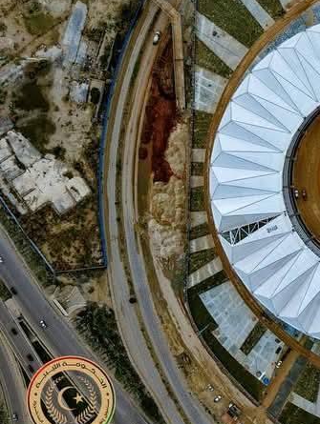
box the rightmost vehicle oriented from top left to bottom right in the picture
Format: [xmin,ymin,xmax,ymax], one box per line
[226,403,241,418]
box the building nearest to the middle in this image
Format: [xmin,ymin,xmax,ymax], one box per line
[68,176,94,203]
